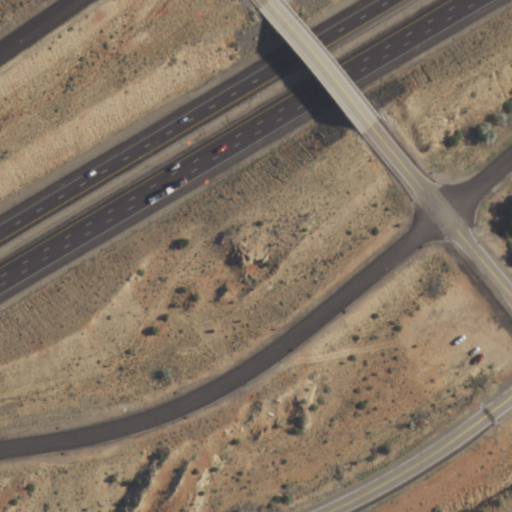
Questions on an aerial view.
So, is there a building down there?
No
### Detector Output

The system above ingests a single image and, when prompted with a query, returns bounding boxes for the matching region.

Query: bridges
[254,0,383,134]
